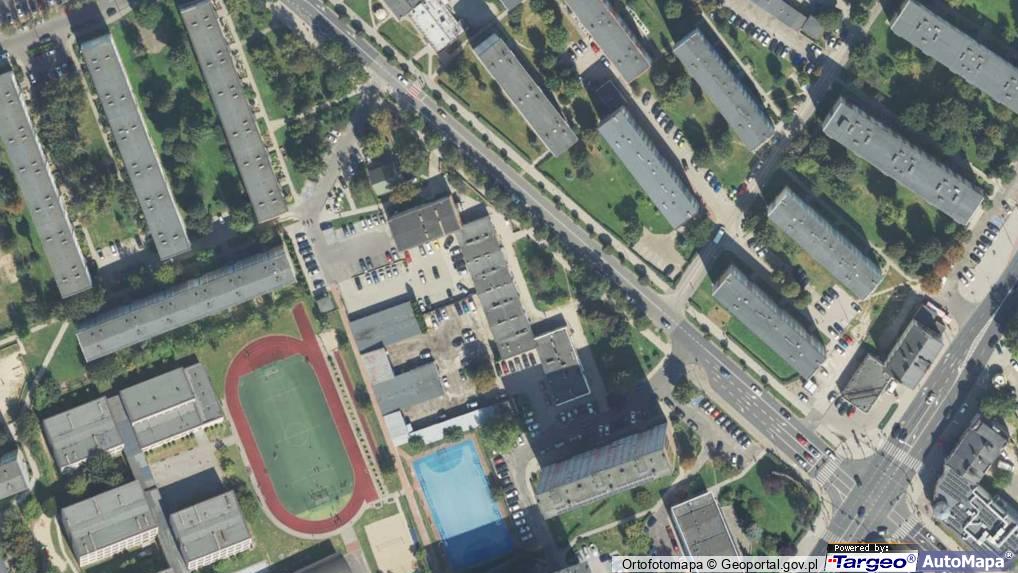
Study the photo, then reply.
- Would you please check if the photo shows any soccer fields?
Yes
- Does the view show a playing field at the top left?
No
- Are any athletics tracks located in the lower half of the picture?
Yes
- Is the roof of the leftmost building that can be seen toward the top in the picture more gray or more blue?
gray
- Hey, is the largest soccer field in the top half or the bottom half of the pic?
bottom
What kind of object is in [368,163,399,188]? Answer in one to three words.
shed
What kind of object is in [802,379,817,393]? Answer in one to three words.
vehicle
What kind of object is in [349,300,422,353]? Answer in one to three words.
building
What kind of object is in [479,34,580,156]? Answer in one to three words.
building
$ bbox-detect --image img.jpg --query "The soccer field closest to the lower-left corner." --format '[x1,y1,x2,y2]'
[236,356,356,516]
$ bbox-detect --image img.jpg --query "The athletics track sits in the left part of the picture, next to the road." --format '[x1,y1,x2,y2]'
[225,301,378,529]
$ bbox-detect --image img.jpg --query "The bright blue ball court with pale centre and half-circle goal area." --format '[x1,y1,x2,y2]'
[414,440,513,571]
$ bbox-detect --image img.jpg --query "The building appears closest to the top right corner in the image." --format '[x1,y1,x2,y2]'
[891,0,1018,112]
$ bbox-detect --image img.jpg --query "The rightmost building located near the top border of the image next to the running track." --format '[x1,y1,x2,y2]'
[181,0,290,224]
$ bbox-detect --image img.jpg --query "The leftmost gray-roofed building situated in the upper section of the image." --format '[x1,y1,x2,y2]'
[0,66,95,299]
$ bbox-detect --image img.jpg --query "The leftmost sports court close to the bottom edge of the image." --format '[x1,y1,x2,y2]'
[365,513,419,573]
